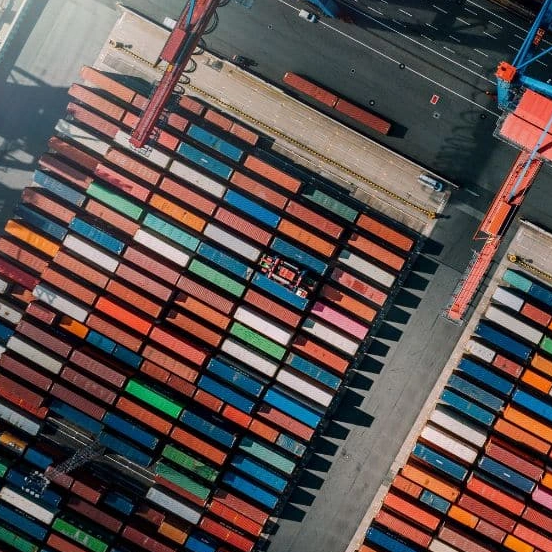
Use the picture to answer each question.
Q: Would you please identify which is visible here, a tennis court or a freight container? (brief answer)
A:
freight container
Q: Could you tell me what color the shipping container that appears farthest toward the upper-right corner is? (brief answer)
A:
red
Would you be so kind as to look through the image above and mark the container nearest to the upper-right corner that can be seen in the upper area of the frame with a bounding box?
[335,98,393,137]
